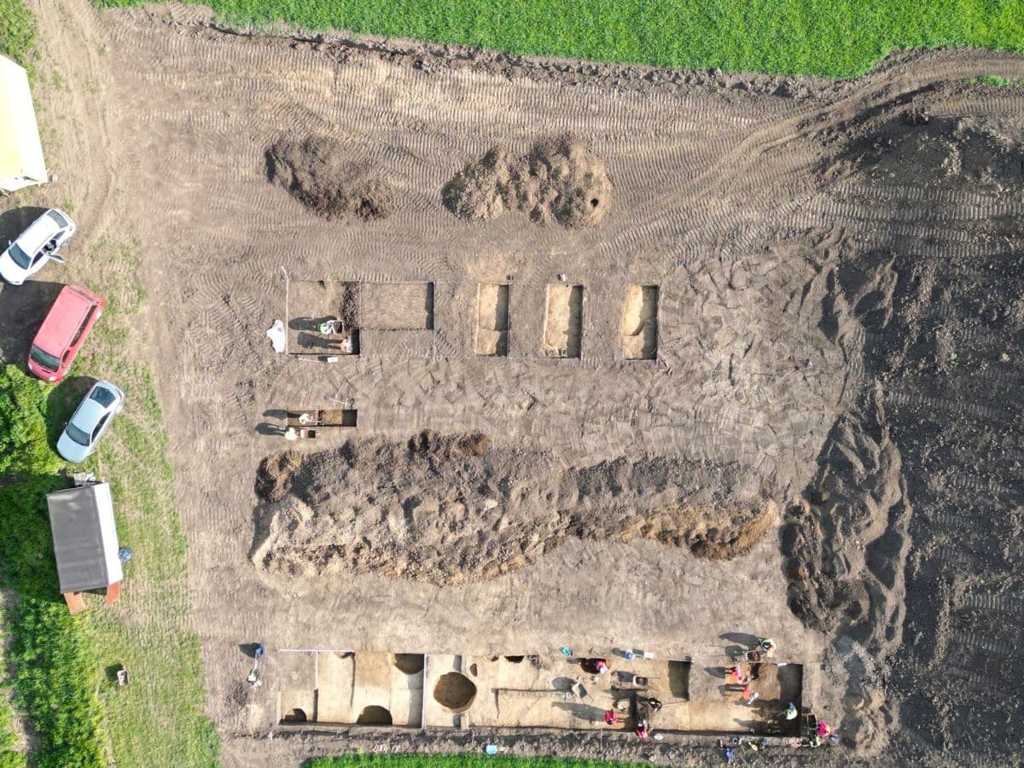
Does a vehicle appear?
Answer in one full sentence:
Yes, there's a vehicle here.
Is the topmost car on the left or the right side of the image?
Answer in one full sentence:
The topmost car appears in the left half of the scene.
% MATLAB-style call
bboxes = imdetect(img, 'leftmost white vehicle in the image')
[0,203,74,281]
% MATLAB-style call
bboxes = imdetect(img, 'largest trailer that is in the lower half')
[46,472,125,611]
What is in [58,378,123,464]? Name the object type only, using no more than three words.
car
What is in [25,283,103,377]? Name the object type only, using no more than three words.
van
